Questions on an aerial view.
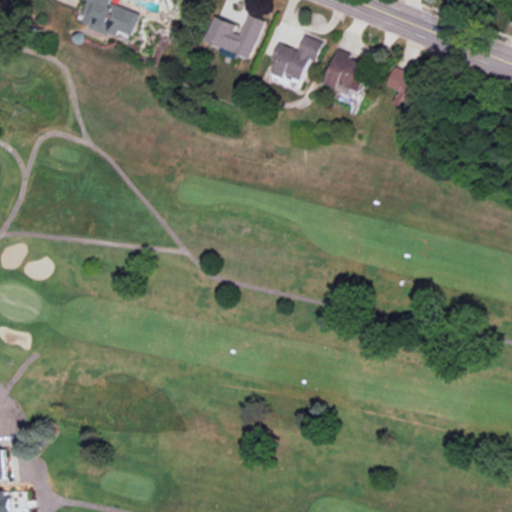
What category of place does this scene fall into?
golf course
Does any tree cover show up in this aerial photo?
Yes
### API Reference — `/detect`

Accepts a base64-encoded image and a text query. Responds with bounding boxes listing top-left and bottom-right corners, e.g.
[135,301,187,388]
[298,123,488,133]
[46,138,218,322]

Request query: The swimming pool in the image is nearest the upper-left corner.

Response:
[71,32,84,46]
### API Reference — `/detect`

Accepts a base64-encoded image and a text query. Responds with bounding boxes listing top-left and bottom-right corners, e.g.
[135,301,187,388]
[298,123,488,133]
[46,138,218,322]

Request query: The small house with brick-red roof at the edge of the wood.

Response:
[386,66,408,108]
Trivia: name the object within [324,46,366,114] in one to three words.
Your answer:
house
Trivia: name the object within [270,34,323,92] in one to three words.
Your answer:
house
